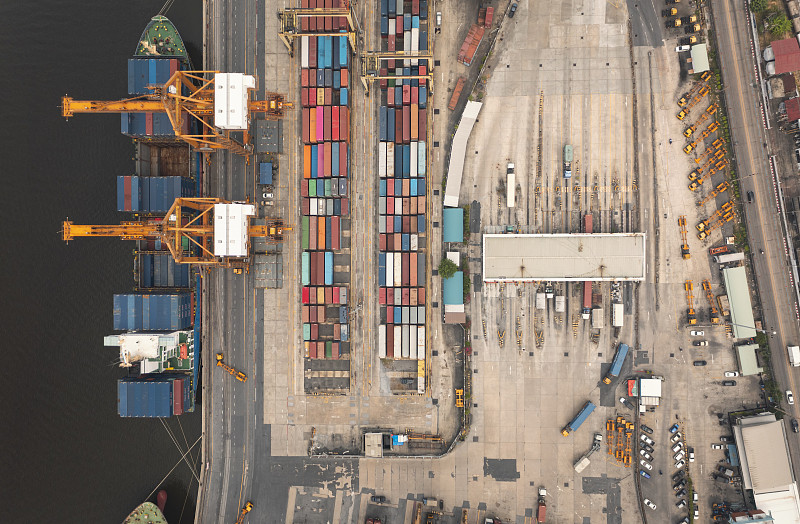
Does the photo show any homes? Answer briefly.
Yes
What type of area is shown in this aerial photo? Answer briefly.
port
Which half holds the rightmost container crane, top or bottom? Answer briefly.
top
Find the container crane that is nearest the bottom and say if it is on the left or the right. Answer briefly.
left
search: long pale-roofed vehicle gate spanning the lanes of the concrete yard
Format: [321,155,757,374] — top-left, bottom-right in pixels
[483,233,646,283]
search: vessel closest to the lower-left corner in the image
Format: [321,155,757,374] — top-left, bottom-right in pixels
[129,490,169,524]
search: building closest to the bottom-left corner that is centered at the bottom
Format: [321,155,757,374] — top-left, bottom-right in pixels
[365,430,383,458]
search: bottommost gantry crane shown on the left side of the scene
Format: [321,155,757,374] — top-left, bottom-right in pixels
[53,197,294,269]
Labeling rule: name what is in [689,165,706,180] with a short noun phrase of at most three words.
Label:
vehicle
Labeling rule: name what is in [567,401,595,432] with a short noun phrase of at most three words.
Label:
shipping container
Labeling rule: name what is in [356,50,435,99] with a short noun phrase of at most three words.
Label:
container crane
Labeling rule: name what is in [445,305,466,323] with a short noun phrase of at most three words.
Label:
shed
